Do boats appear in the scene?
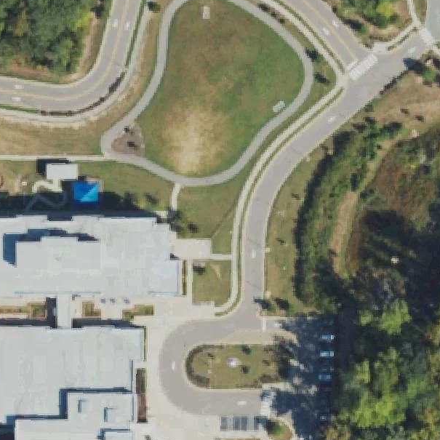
No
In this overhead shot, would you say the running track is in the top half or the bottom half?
top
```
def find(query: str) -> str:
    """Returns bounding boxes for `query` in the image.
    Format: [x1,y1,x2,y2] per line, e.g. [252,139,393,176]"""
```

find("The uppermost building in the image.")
[47,164,77,179]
